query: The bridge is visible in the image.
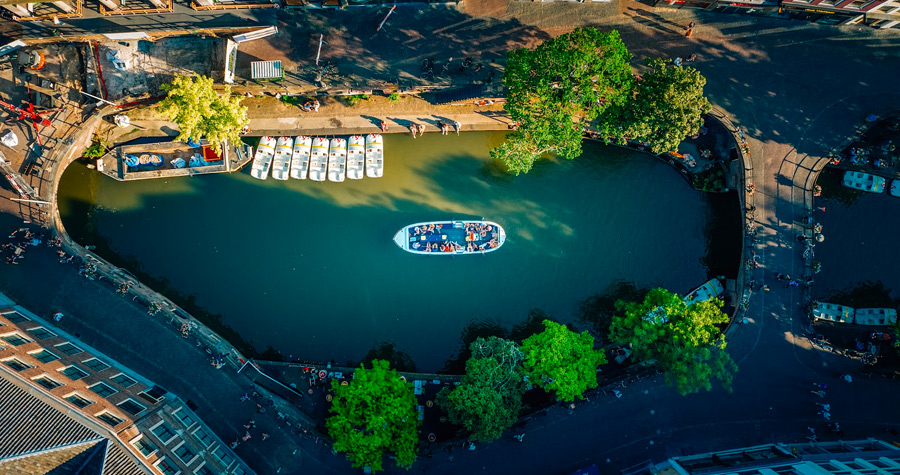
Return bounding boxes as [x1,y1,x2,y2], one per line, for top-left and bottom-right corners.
[728,164,815,317]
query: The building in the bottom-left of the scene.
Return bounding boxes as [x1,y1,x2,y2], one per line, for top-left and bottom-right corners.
[0,293,261,475]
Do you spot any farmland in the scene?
No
